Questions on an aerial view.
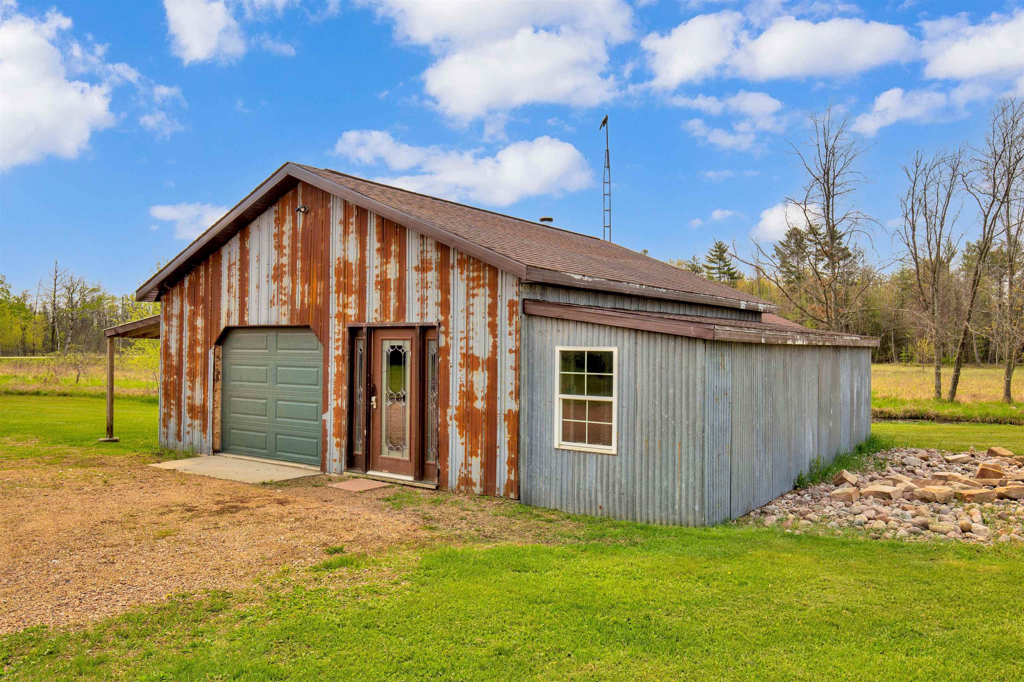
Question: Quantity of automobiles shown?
zero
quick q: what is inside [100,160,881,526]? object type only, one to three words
building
